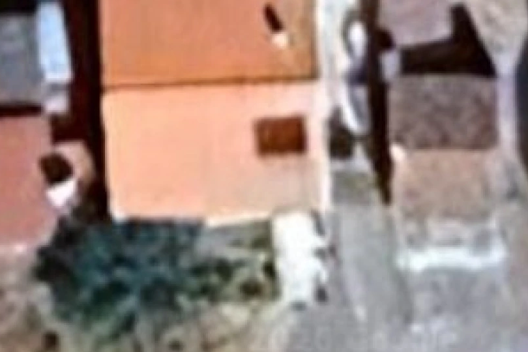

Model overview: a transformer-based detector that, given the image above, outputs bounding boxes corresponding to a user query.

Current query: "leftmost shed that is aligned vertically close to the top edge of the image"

[0,13,44,107]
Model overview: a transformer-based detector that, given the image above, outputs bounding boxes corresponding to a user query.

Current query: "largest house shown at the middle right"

[390,73,499,226]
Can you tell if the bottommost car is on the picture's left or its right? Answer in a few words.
right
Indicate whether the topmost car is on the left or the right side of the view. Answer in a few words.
right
